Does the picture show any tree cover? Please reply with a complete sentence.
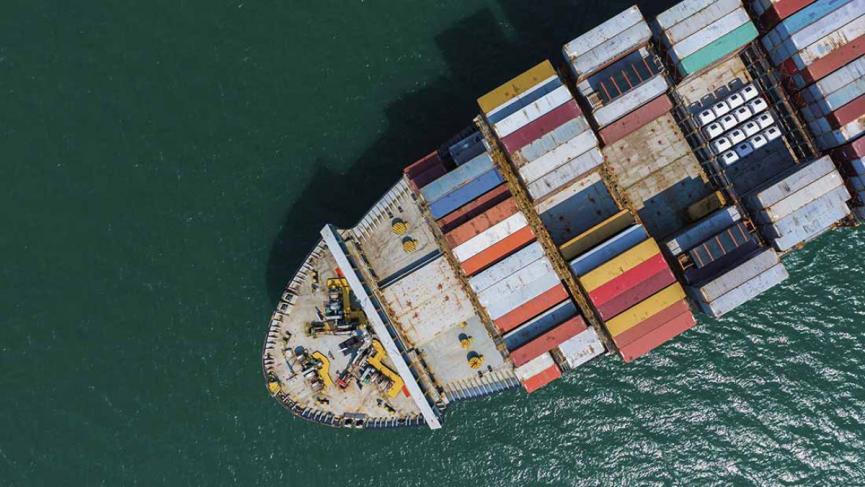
No, the scene doesn't show any tree cover.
